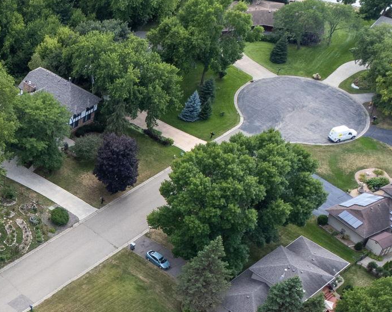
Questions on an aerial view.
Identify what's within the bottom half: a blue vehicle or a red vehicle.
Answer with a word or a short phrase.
blue vehicle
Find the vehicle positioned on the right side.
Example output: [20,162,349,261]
[327,124,360,142]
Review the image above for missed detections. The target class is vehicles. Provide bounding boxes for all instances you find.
[145,251,173,270]
[327,124,360,142]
